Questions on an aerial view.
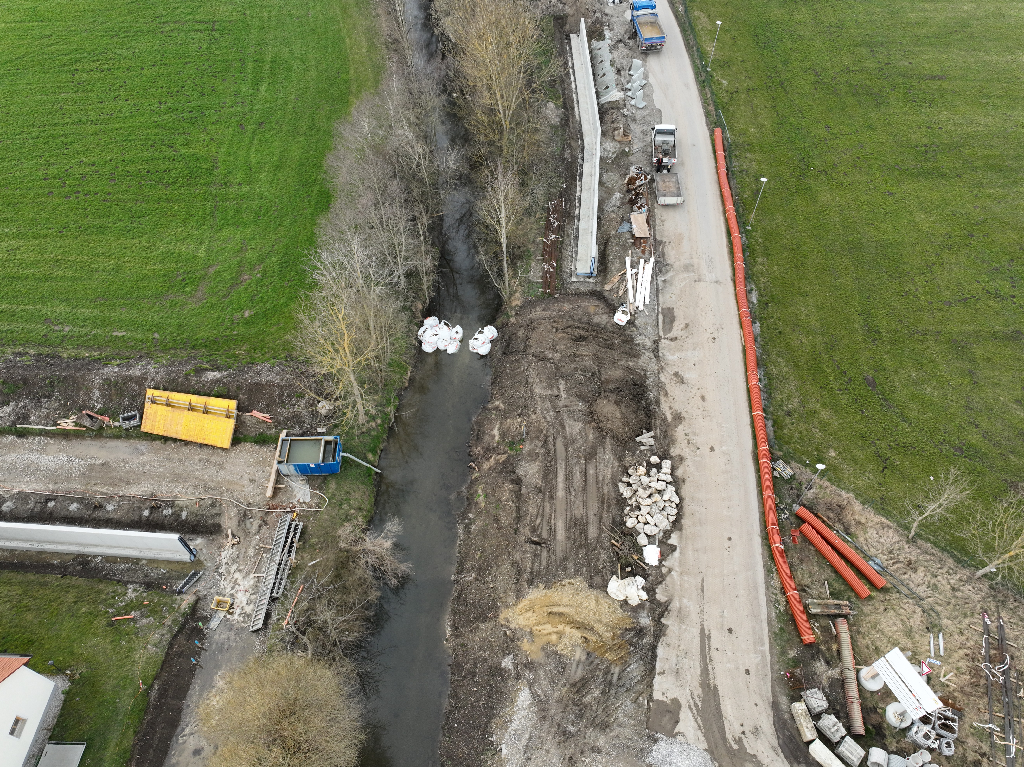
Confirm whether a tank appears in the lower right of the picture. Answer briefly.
No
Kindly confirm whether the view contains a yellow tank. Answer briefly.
No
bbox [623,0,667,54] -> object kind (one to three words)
truck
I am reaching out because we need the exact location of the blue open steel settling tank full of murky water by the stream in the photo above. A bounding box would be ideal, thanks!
[274,435,345,478]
